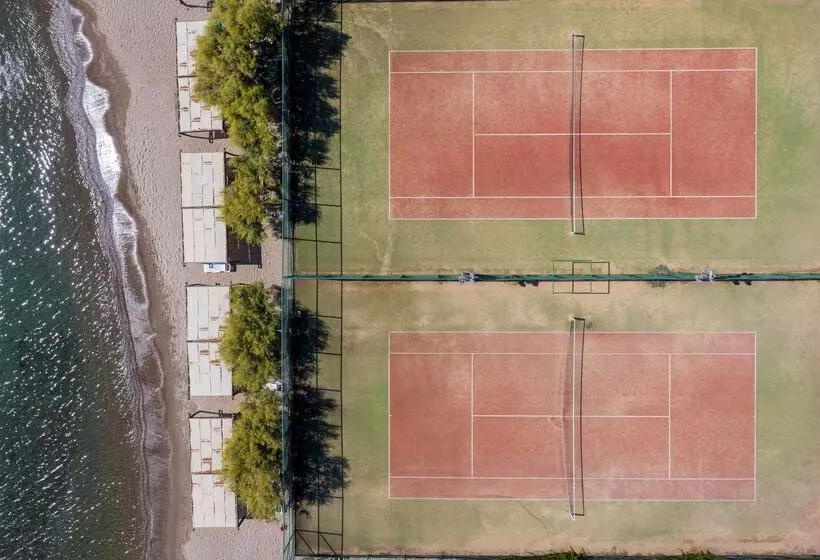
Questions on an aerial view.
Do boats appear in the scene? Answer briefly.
No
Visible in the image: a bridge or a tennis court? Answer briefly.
tennis court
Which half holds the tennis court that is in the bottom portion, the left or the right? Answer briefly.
right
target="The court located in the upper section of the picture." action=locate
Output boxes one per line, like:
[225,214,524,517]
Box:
[295,0,820,274]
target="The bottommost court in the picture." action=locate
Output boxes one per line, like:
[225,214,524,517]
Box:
[295,279,820,557]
